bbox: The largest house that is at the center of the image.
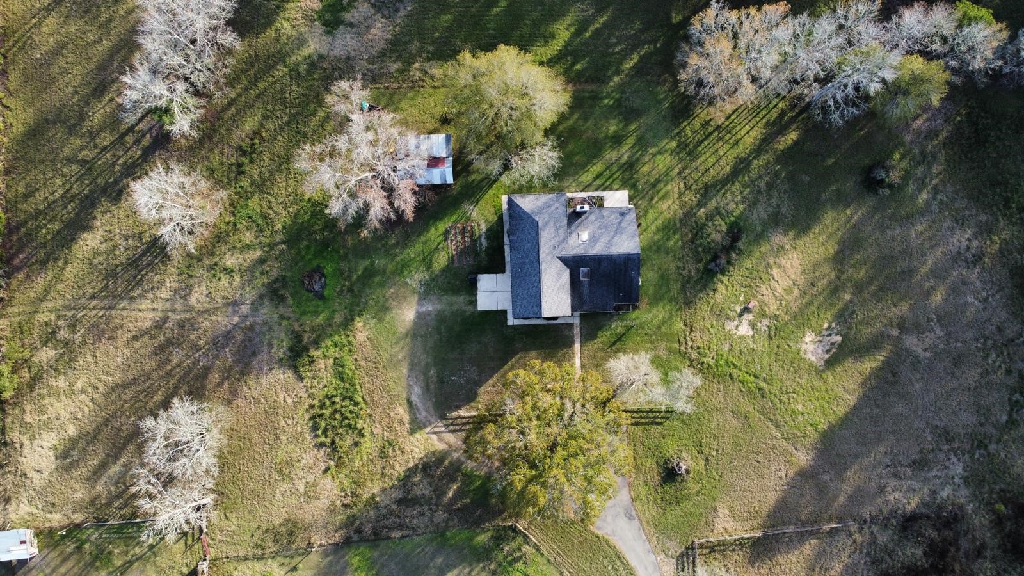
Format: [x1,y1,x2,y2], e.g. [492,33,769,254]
[506,192,640,319]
